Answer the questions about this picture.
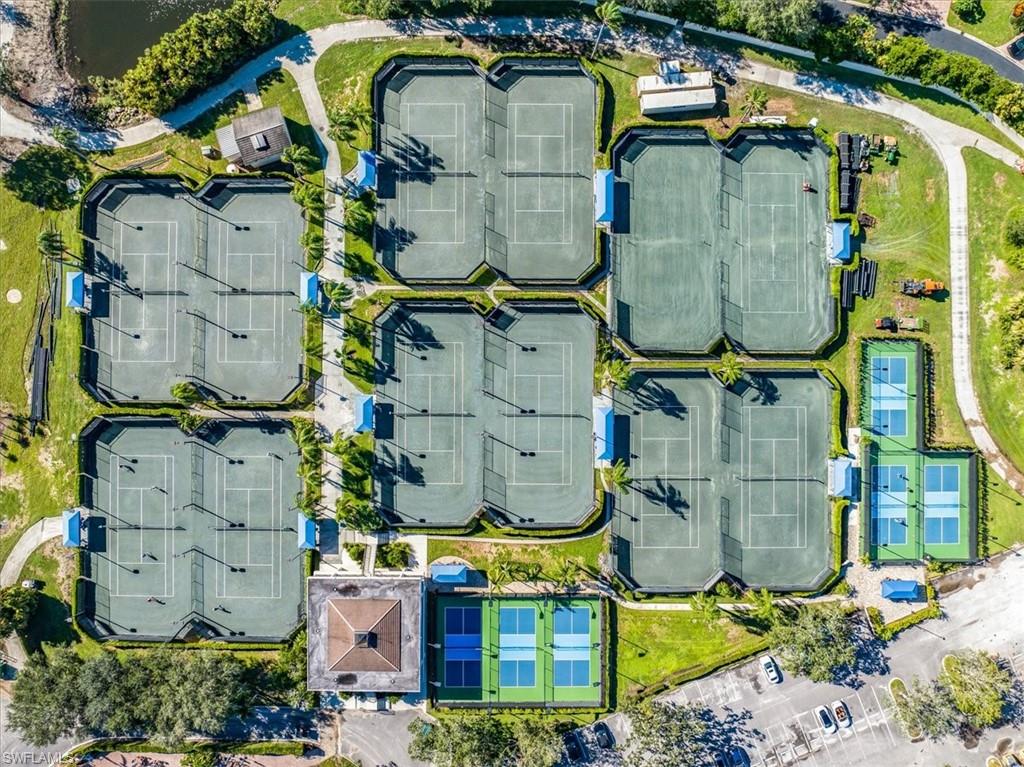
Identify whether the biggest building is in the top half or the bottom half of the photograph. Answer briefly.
bottom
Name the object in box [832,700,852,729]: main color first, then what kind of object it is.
white car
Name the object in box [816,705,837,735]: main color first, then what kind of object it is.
white car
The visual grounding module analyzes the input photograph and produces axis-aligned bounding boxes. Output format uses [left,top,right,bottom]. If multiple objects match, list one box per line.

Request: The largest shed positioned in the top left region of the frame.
[231,105,295,165]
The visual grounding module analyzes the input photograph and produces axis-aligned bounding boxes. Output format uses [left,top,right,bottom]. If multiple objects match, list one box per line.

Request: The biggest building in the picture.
[307,565,425,700]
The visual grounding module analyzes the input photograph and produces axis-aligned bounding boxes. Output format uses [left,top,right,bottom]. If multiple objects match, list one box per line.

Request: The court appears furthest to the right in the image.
[919,452,969,558]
